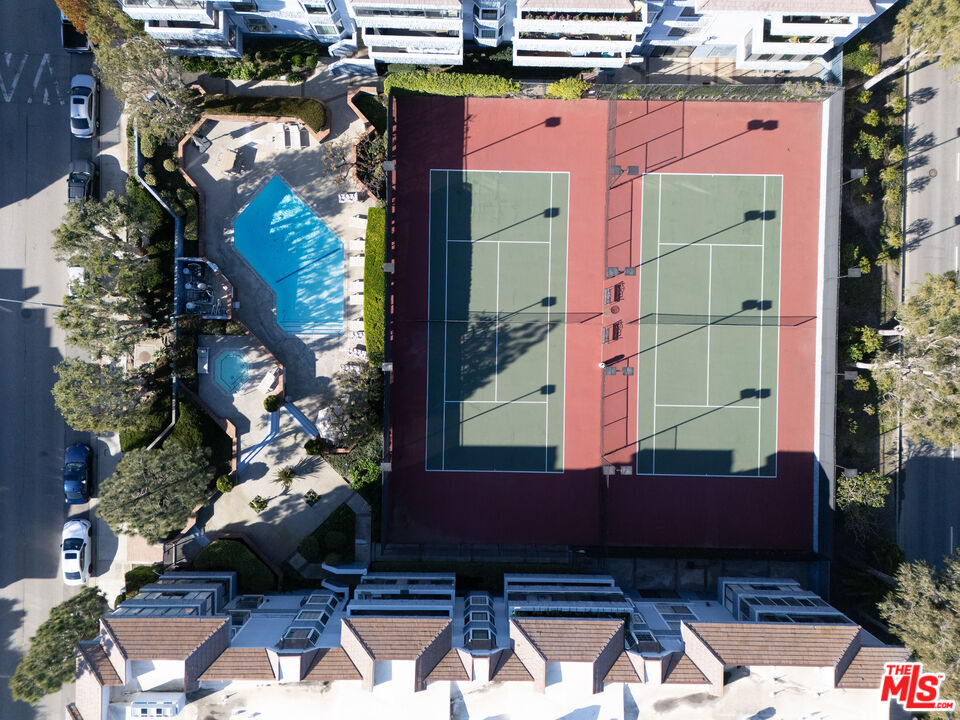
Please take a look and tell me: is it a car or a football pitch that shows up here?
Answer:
car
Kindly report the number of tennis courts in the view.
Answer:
two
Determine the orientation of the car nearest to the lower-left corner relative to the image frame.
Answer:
from top to bottom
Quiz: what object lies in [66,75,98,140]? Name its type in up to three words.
car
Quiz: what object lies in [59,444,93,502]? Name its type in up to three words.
car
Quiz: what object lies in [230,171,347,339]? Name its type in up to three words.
swimming pool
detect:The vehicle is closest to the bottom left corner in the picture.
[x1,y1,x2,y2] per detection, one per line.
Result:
[58,518,92,586]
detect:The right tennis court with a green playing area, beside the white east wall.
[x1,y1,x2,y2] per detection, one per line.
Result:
[600,98,823,553]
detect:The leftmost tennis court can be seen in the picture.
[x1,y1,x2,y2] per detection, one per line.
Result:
[388,97,608,550]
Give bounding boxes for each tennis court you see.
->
[388,97,608,550]
[600,98,823,553]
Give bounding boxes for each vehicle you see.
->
[58,518,92,586]
[66,75,98,140]
[57,8,90,52]
[59,444,93,502]
[62,156,98,218]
